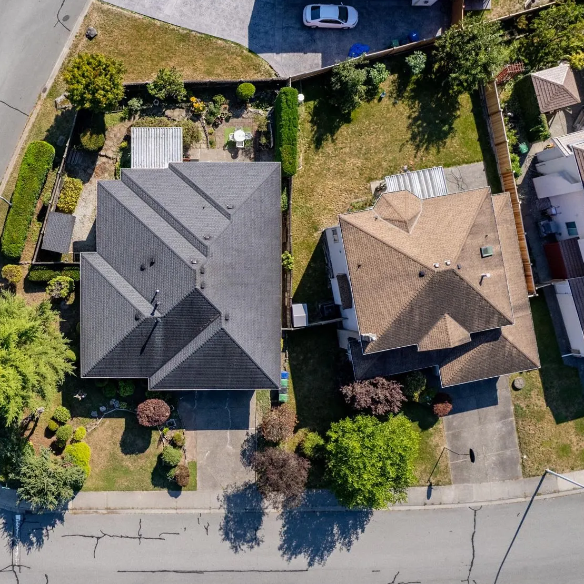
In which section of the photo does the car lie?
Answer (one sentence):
The car is located in the top region of the scene.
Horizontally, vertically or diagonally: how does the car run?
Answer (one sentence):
The car is laid out horizontally.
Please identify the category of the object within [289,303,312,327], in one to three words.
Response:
shed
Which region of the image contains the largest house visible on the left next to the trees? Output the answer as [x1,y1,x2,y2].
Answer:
[80,161,282,390]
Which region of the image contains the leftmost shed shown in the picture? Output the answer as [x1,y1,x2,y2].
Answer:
[42,212,75,254]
